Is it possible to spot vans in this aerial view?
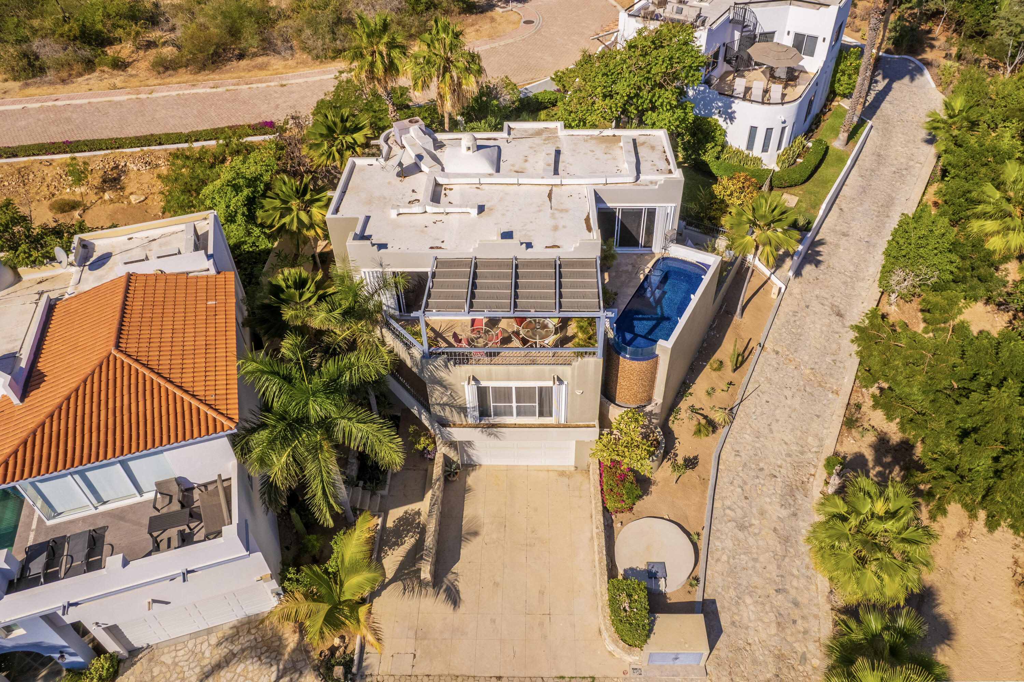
No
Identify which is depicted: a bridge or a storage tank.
storage tank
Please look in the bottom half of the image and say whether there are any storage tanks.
Yes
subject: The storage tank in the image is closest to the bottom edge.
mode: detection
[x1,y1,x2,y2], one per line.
[615,511,698,589]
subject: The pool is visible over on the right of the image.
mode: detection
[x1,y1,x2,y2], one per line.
[602,254,707,413]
